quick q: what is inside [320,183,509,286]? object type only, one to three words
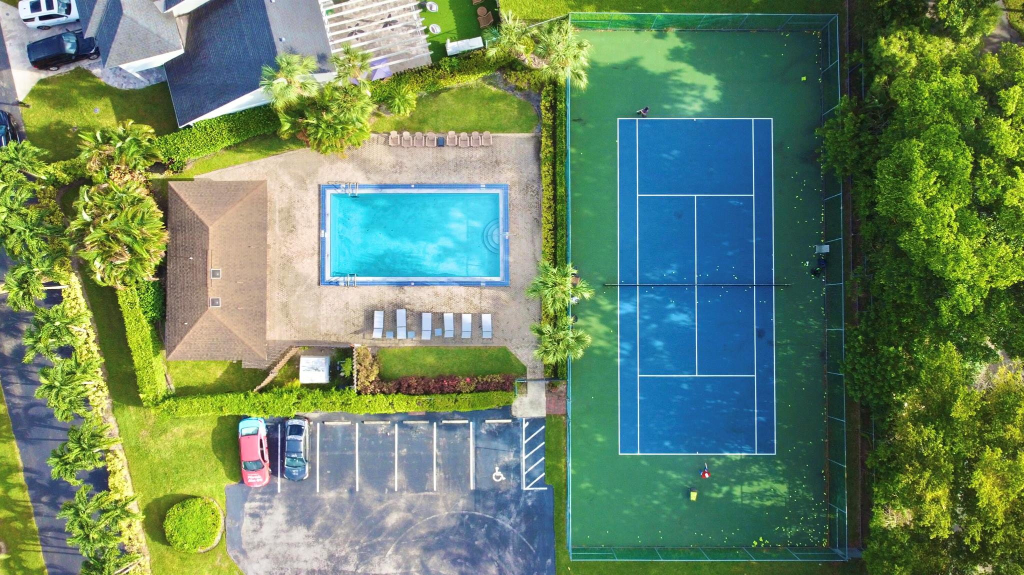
swimming pool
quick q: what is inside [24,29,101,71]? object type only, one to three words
car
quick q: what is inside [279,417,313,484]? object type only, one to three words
car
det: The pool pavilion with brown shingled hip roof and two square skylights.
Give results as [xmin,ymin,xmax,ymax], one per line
[164,179,269,362]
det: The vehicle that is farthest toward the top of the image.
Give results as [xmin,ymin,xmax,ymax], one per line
[11,0,86,33]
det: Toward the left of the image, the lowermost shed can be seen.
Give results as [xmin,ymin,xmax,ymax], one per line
[300,355,335,384]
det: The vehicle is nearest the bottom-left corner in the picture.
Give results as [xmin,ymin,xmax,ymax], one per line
[237,418,272,488]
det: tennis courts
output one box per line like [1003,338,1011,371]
[567,30,829,547]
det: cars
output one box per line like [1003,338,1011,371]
[24,29,101,71]
[11,0,86,33]
[237,418,272,488]
[279,417,313,484]
[0,100,21,145]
